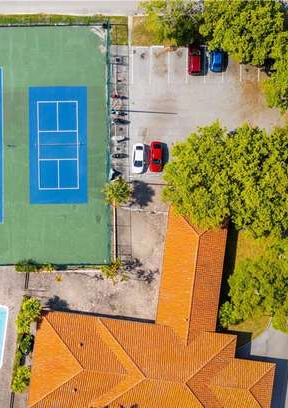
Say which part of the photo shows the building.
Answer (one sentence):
The building sits in the bottom section of the image.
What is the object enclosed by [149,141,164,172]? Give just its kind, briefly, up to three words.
car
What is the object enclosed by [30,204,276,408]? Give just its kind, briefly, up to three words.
building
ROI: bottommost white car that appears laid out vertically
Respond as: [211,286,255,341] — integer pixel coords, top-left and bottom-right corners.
[132,143,147,174]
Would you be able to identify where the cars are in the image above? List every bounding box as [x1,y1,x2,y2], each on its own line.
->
[149,141,164,172]
[132,143,147,174]
[208,48,224,77]
[187,45,203,76]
